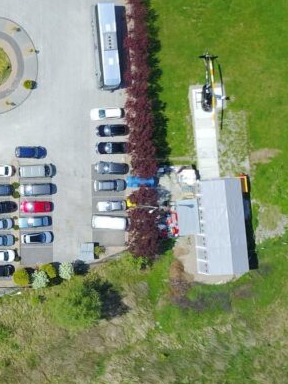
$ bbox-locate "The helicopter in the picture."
[196,51,217,129]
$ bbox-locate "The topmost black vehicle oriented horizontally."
[97,125,126,137]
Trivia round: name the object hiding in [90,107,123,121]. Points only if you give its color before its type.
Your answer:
white car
